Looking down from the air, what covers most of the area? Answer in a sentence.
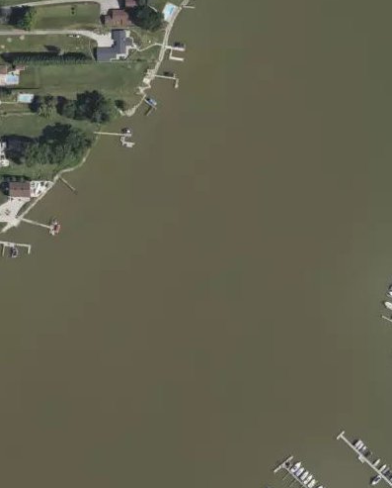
The bulk of the photo consists of water.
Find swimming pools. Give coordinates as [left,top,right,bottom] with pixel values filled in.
[5,74,19,85]
[163,1,177,19]
[17,94,34,103]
